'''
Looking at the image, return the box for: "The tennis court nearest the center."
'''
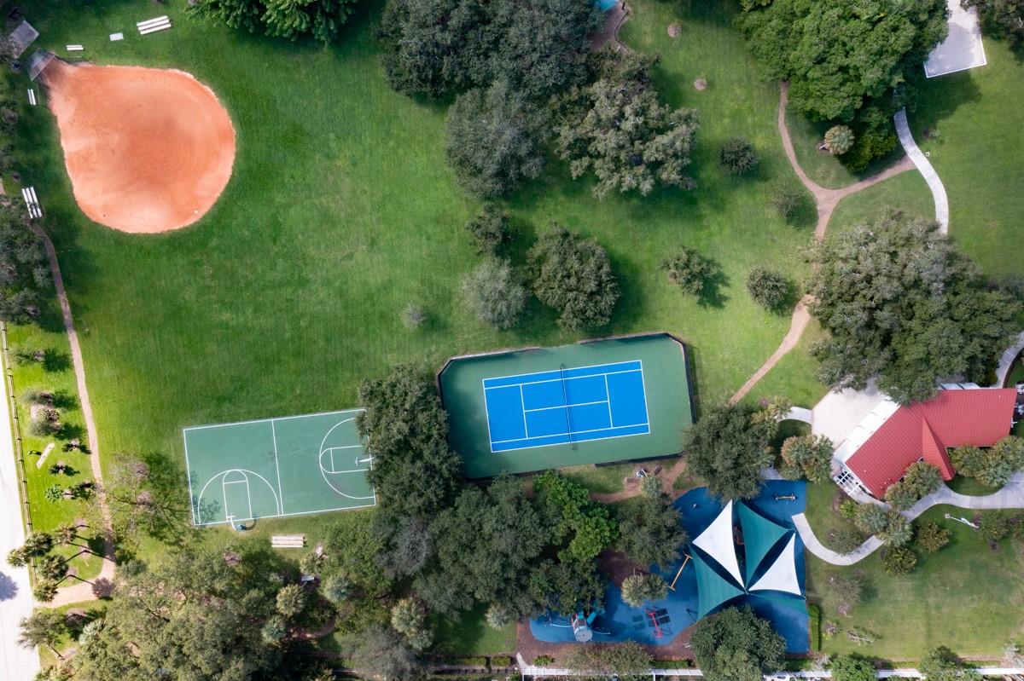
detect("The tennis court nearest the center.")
[438,334,693,478]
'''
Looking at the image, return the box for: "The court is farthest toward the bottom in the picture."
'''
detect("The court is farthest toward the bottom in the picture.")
[182,409,377,526]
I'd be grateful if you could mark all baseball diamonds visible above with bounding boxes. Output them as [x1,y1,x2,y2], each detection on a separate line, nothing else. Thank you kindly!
[39,57,235,234]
